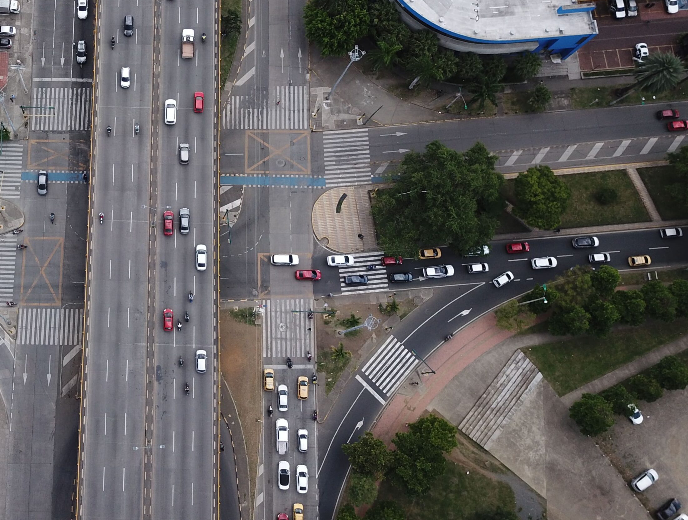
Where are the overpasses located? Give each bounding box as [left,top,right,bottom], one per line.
[78,0,219,520]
